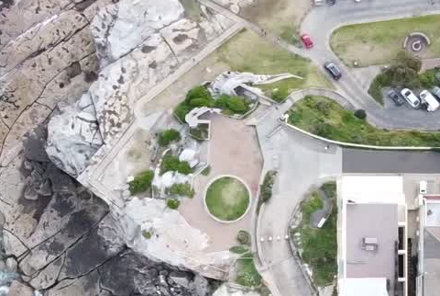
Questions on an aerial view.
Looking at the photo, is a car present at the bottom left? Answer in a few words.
No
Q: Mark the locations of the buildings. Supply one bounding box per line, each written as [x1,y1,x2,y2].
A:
[335,174,408,296]
[410,194,440,296]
